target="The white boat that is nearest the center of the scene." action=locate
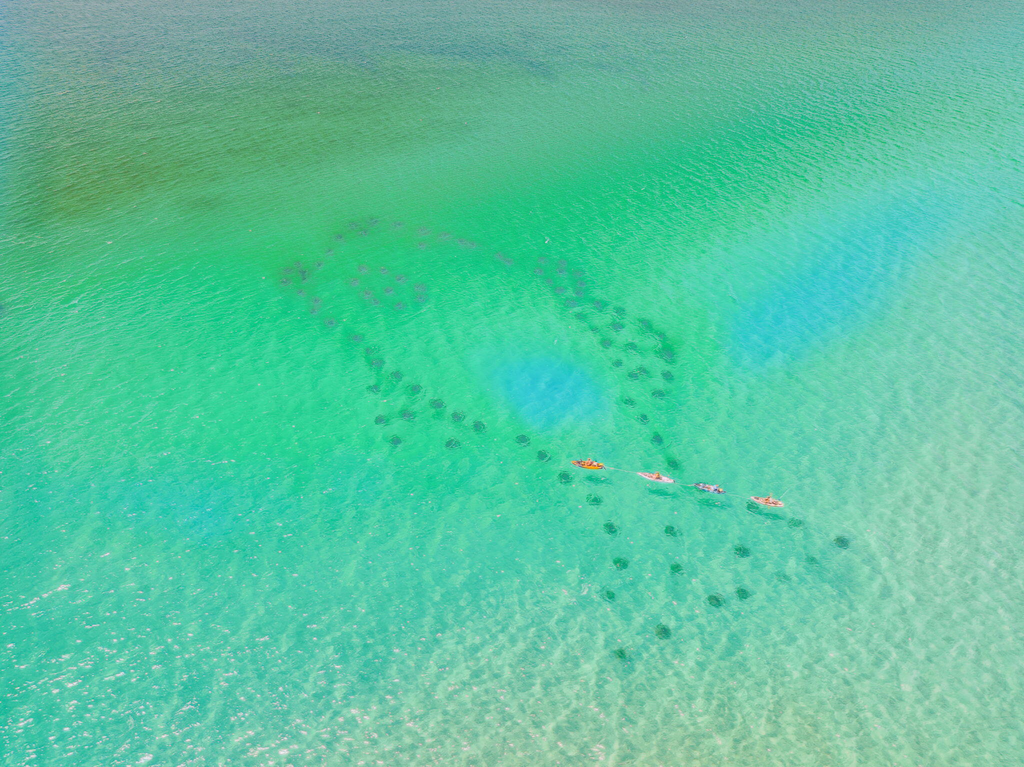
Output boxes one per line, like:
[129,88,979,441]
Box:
[637,471,677,485]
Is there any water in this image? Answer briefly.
Yes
